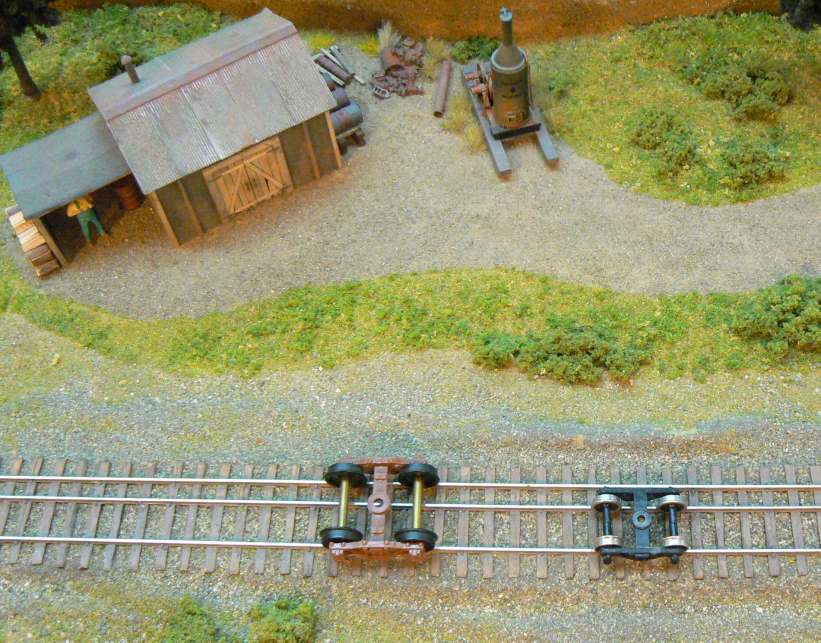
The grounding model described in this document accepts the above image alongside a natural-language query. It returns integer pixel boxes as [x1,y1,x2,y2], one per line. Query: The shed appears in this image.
[0,6,342,267]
